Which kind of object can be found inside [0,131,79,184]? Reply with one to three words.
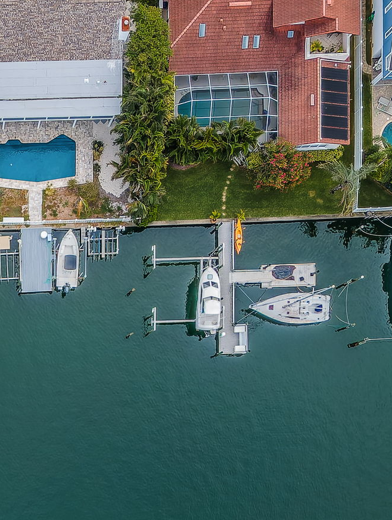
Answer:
swimming pool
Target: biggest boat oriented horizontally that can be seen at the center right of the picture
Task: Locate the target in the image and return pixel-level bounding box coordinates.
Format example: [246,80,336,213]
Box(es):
[249,288,337,324]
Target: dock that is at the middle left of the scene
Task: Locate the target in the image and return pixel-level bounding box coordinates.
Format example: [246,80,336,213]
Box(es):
[19,227,52,294]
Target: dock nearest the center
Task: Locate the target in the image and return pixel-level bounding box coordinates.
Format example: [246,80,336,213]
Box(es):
[214,220,249,353]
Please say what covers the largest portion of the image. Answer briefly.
water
